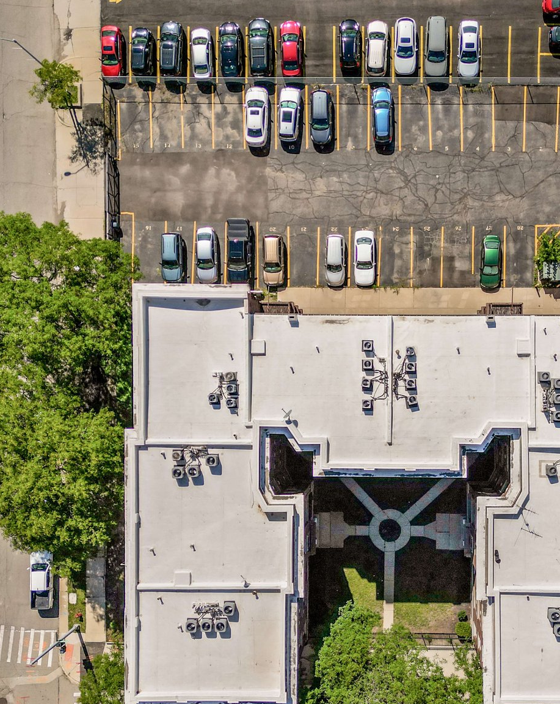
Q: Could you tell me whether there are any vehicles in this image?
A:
Yes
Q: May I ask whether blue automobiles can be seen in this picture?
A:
Yes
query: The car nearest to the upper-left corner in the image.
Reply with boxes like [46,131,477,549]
[97,25,125,78]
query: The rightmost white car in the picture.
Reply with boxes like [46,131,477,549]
[456,19,482,79]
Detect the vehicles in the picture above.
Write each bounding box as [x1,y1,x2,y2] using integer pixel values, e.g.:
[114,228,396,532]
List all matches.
[337,19,363,73]
[392,15,420,77]
[278,21,303,78]
[260,234,285,285]
[308,87,333,146]
[157,21,186,78]
[25,549,55,610]
[323,234,347,287]
[352,229,378,285]
[542,0,560,21]
[456,19,482,79]
[223,217,252,283]
[97,25,125,78]
[129,28,155,77]
[245,17,274,78]
[478,235,504,289]
[363,19,391,79]
[158,232,186,282]
[370,86,396,144]
[243,86,269,147]
[192,227,219,283]
[215,21,243,79]
[189,29,214,79]
[549,26,560,52]
[423,13,451,78]
[276,86,302,142]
